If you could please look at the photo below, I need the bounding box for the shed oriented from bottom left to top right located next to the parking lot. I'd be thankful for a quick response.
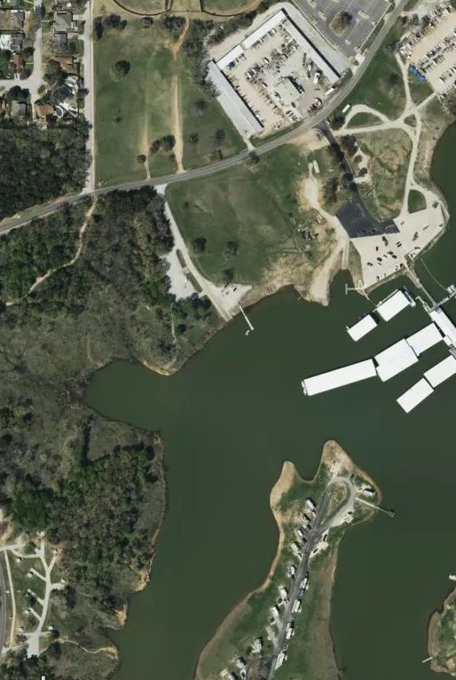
[242,9,286,49]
